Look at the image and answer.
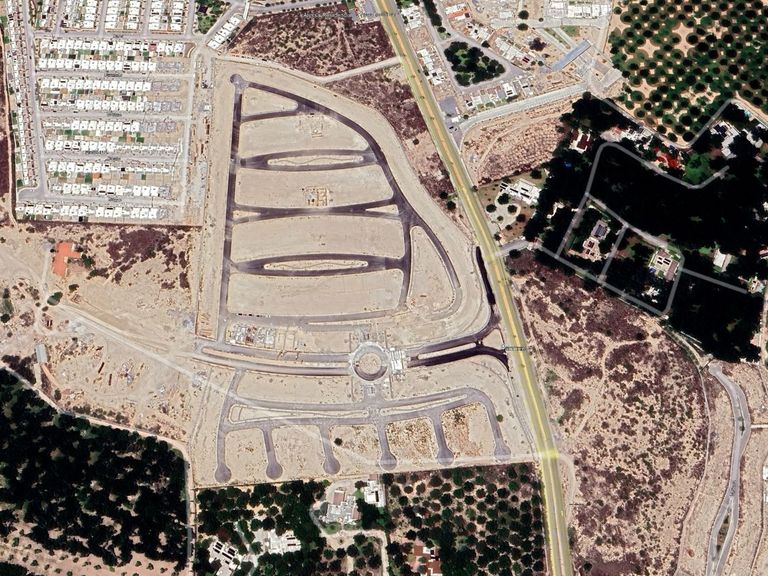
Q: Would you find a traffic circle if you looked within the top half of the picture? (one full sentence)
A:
No, there is no traffic circle within the top half of the picture.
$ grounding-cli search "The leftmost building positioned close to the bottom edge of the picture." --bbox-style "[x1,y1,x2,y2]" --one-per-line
[209,541,240,572]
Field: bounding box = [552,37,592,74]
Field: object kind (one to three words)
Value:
building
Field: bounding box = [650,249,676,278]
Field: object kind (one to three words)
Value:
house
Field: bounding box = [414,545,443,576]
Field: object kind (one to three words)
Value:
house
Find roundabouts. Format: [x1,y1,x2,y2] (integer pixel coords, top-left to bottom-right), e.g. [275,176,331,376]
[351,344,390,383]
